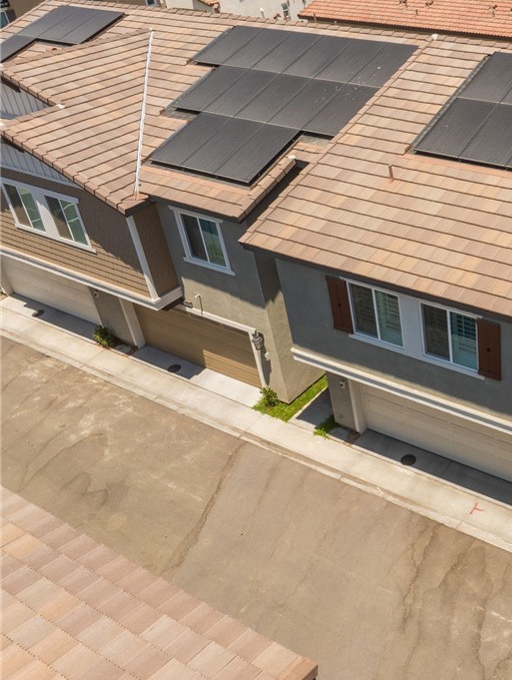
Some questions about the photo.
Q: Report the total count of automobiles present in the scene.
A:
zero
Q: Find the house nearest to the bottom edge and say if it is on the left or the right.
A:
left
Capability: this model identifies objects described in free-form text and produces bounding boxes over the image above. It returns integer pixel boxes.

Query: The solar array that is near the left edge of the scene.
[0,4,121,63]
